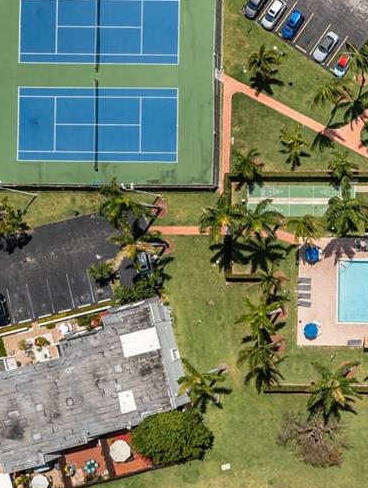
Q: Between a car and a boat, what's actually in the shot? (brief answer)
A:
car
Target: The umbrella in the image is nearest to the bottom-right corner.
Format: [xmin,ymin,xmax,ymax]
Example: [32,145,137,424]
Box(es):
[303,322,319,339]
